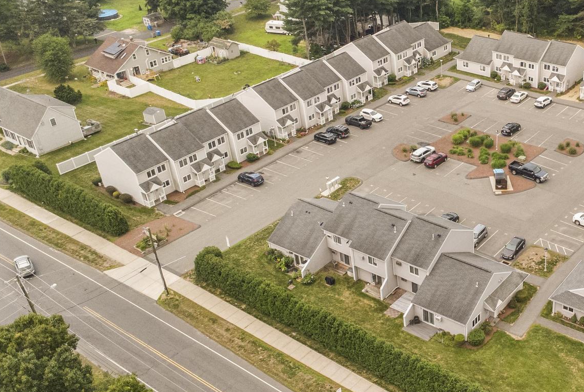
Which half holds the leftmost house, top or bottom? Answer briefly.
top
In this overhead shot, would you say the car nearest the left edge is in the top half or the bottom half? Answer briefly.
bottom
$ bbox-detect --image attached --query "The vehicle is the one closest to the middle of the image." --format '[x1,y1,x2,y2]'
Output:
[235,169,264,186]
